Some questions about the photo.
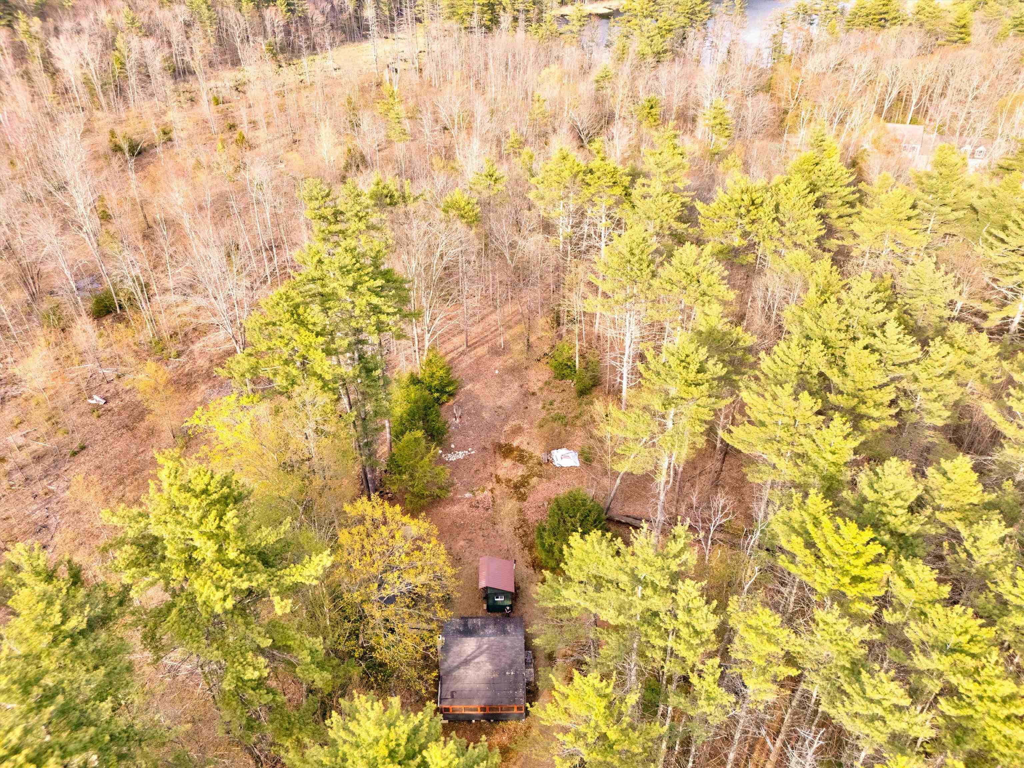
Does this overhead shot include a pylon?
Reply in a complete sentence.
No, the photo shows no pylon.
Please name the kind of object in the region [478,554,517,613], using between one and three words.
shed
